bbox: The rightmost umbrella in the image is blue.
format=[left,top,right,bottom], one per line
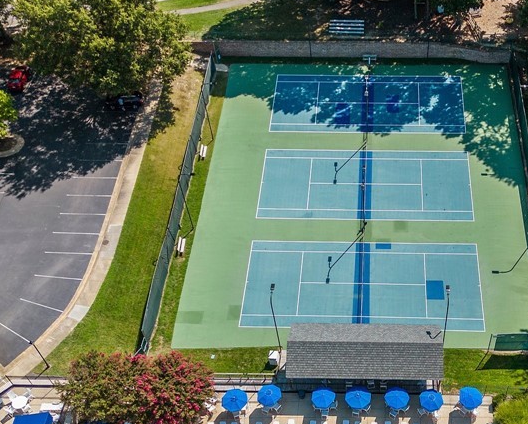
[457,390,484,415]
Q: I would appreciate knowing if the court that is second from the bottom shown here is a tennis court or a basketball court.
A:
tennis court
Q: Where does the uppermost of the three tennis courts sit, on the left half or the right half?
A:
right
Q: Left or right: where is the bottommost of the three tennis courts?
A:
right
